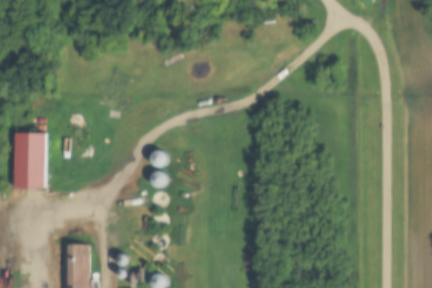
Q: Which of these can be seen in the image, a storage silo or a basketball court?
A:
storage silo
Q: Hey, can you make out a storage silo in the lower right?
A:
No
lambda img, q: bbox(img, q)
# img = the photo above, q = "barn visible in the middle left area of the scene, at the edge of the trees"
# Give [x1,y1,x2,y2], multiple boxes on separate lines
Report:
[14,133,47,188]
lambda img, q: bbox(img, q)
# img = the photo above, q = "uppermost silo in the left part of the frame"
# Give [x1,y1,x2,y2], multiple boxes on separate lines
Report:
[148,148,170,170]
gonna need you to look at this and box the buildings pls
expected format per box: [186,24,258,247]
[14,133,47,188]
[66,245,91,288]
